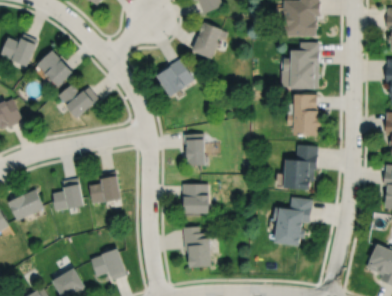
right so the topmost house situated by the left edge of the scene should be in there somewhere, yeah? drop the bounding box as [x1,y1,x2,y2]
[0,31,38,68]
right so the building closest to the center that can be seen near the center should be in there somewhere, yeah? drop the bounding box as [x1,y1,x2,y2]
[184,132,206,166]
